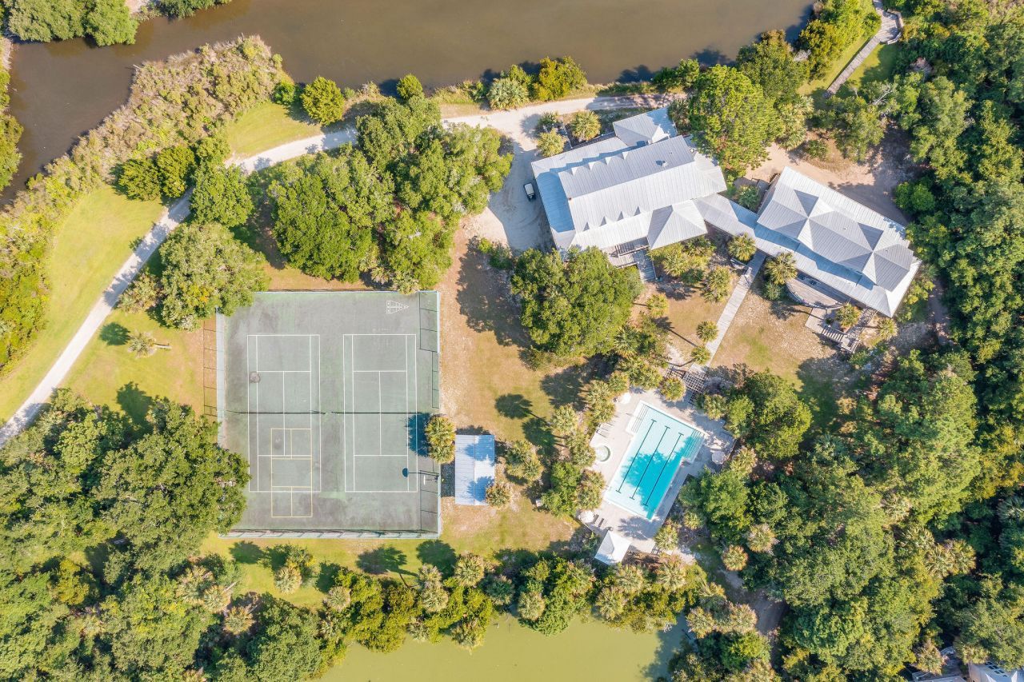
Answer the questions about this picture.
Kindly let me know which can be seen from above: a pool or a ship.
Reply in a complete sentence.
It is a pool that can be seen here.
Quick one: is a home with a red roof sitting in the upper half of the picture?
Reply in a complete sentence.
No, no home with a red roof appears in the upper half of the picture.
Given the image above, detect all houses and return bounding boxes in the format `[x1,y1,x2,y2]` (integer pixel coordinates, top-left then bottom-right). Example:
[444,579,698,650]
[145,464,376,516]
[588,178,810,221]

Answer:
[941,648,1024,682]
[531,107,726,259]
[738,166,927,316]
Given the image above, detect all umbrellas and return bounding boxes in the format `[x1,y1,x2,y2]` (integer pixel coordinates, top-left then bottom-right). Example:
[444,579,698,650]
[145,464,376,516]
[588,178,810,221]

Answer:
[579,508,597,525]
[709,449,725,465]
[619,392,633,405]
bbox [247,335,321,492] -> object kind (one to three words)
tennis court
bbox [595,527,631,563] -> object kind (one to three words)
building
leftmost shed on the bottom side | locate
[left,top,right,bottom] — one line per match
[455,435,495,506]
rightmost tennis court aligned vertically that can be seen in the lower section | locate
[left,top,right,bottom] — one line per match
[343,334,418,492]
